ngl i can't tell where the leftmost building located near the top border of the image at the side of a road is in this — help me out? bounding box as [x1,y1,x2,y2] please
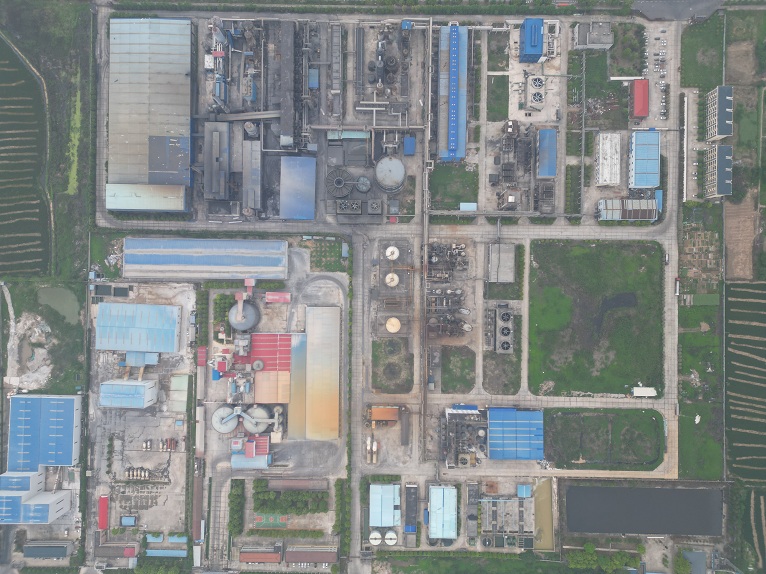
[109,17,194,189]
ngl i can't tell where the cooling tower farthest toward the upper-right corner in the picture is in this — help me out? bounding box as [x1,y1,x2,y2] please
[525,76,545,109]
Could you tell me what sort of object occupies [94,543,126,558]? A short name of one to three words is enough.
house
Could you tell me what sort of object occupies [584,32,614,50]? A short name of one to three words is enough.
building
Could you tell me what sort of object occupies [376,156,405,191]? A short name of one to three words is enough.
storage tank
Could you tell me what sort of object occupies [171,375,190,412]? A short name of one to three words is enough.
shed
